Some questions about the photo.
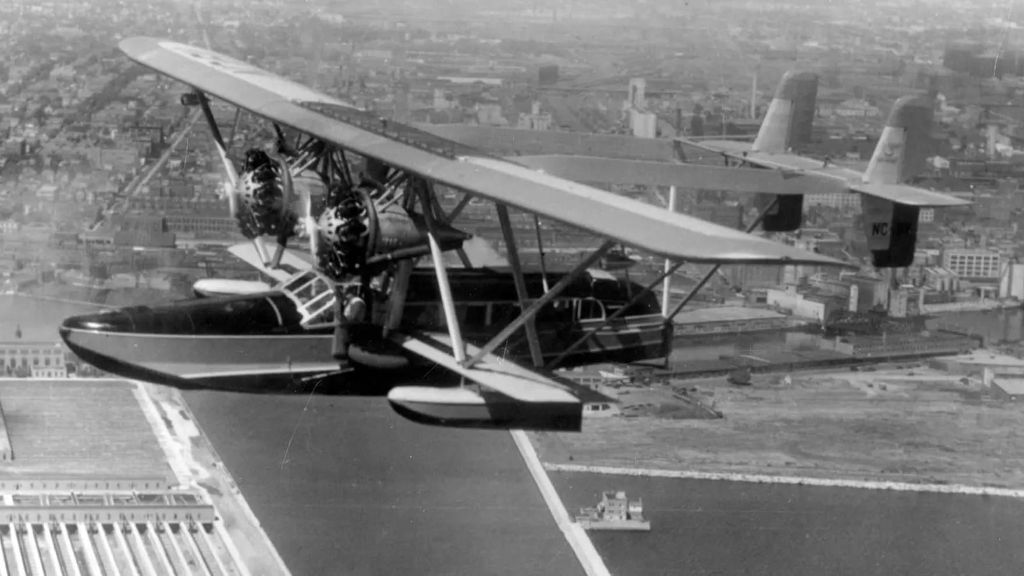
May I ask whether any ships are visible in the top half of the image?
No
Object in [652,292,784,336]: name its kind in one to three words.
shed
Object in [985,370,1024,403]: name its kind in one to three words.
building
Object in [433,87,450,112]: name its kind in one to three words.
building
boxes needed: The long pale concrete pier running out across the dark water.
[510,429,613,576]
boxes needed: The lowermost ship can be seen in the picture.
[572,489,650,529]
